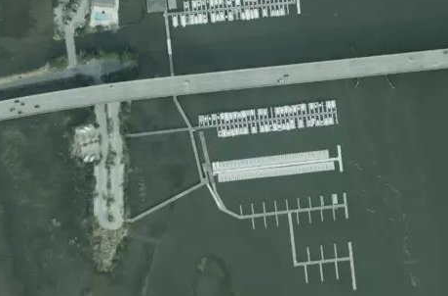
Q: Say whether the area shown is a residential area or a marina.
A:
marina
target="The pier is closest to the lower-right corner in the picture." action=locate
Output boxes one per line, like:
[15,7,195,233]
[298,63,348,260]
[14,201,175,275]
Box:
[297,242,356,290]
